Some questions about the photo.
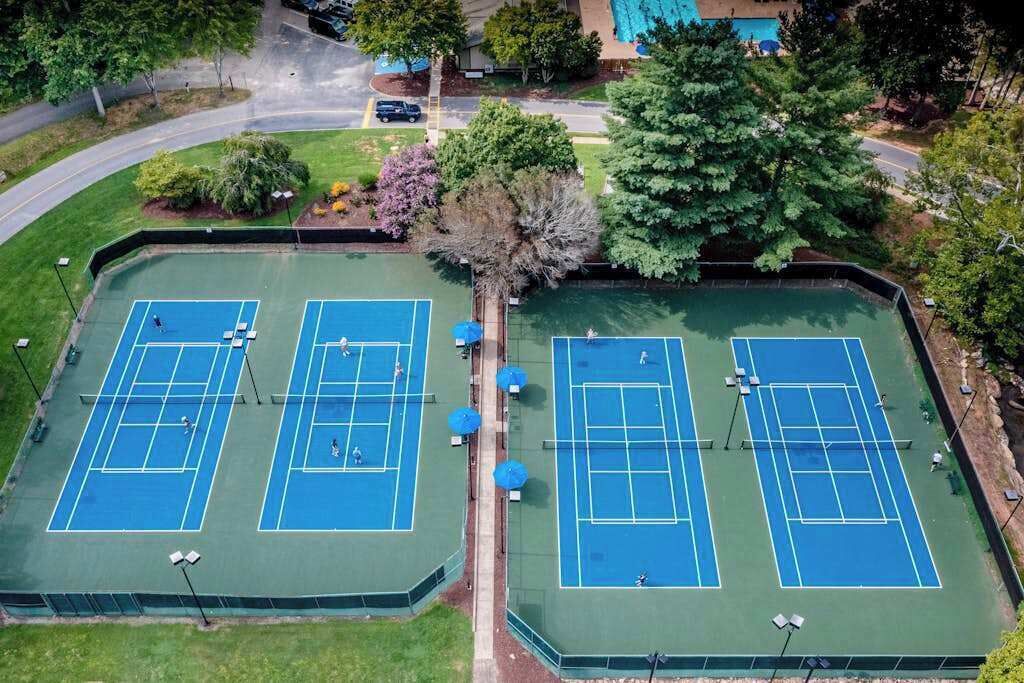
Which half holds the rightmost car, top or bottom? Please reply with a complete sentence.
The rightmost car sits in the top half of the picture.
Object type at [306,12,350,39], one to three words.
vehicle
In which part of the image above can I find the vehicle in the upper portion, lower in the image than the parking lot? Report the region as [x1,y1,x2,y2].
[375,99,420,123]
